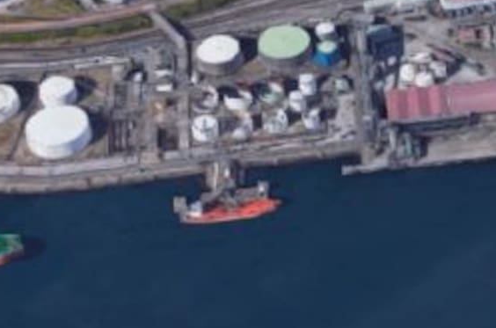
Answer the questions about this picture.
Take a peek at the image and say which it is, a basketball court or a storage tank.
storage tank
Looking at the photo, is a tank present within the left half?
Yes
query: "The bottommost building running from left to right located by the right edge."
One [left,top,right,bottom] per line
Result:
[399,113,473,134]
